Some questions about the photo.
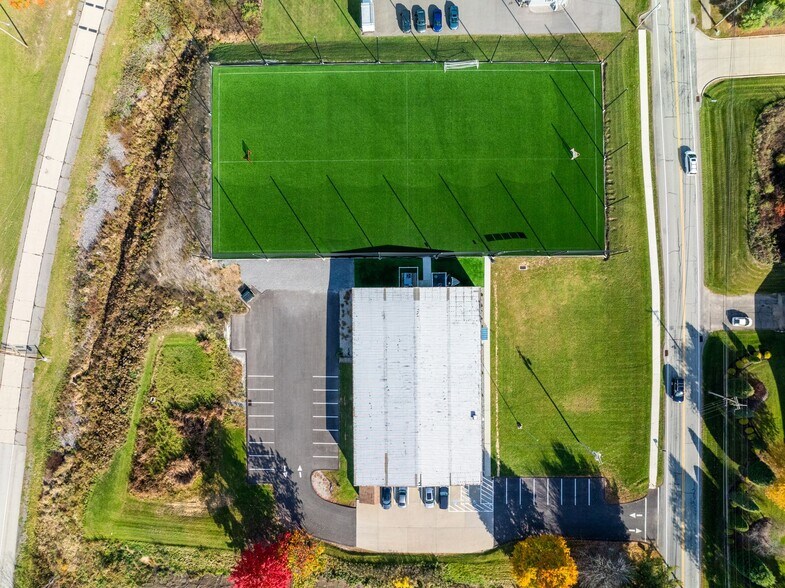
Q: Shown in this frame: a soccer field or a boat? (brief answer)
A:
soccer field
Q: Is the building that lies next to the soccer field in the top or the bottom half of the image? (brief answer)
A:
bottom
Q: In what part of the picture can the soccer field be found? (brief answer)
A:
top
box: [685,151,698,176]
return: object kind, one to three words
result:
vehicle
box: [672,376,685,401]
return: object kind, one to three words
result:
vehicle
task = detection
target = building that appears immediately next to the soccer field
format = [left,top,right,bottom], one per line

[353,288,484,488]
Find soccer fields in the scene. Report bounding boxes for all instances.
[211,61,606,256]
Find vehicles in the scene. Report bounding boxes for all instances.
[728,316,750,327]
[382,487,392,508]
[432,7,442,31]
[414,8,425,32]
[448,4,459,29]
[672,376,685,401]
[685,151,698,176]
[438,487,449,508]
[362,0,375,29]
[396,487,407,508]
[424,487,435,507]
